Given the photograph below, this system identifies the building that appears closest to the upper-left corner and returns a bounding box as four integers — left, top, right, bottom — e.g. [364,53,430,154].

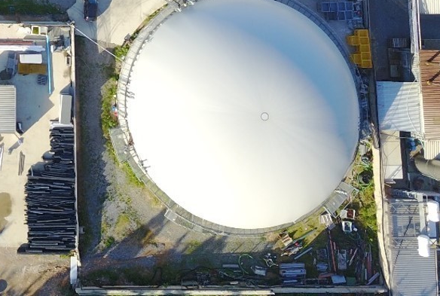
[55,92,72,124]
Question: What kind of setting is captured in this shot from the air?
industrial area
